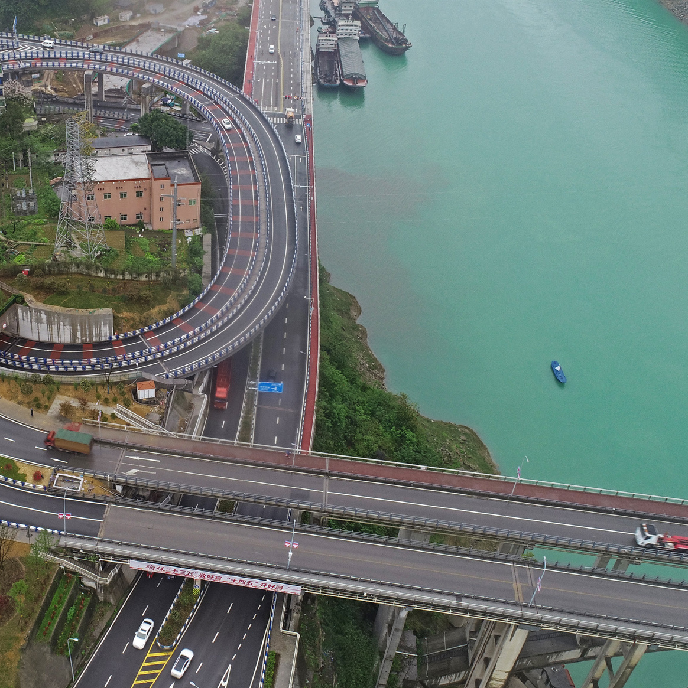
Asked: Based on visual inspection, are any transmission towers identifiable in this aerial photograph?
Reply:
Yes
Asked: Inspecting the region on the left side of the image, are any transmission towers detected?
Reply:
Yes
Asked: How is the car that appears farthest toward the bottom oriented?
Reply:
at an angle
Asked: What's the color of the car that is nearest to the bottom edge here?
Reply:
white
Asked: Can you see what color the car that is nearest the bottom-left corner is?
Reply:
white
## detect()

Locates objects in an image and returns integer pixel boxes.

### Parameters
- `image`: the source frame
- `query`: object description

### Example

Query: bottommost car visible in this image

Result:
[167,646,199,679]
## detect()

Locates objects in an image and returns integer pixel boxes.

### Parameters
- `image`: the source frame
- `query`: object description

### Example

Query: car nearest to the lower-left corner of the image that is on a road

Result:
[130,614,157,648]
